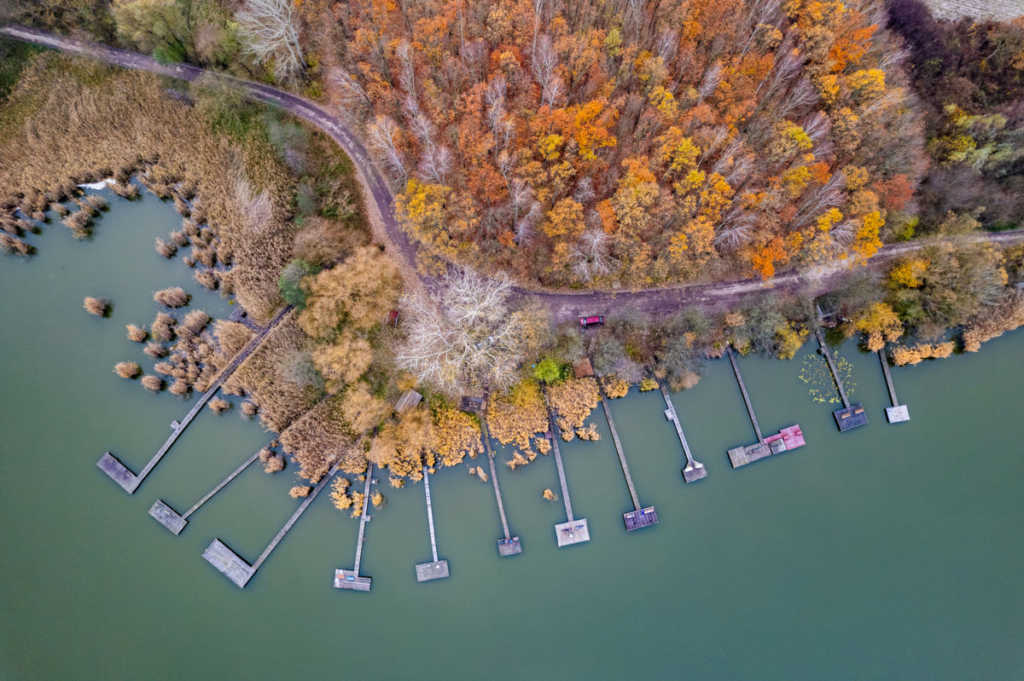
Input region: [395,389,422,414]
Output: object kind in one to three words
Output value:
shed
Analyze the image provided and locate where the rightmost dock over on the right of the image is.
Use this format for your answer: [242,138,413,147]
[876,336,910,423]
